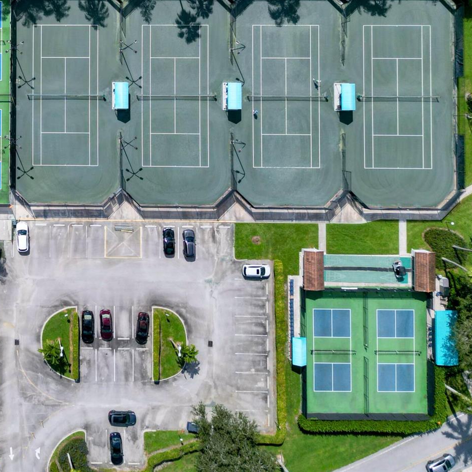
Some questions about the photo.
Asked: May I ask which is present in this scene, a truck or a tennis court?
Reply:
tennis court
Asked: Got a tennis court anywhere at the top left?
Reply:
Yes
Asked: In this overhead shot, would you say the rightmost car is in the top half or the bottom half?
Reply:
bottom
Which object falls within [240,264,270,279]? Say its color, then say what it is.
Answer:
white car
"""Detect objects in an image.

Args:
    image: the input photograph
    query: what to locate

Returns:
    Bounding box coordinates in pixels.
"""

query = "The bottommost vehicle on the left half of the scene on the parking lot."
[109,431,125,463]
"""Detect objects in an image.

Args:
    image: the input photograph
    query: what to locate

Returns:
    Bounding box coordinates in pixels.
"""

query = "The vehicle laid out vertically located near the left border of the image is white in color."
[15,222,29,252]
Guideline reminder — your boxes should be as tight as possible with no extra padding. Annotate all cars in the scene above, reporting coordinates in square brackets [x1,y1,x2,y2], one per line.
[182,228,197,259]
[424,450,456,472]
[109,431,125,463]
[81,311,95,341]
[240,264,270,279]
[99,309,113,339]
[106,410,137,427]
[15,222,29,252]
[136,312,150,343]
[162,227,176,256]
